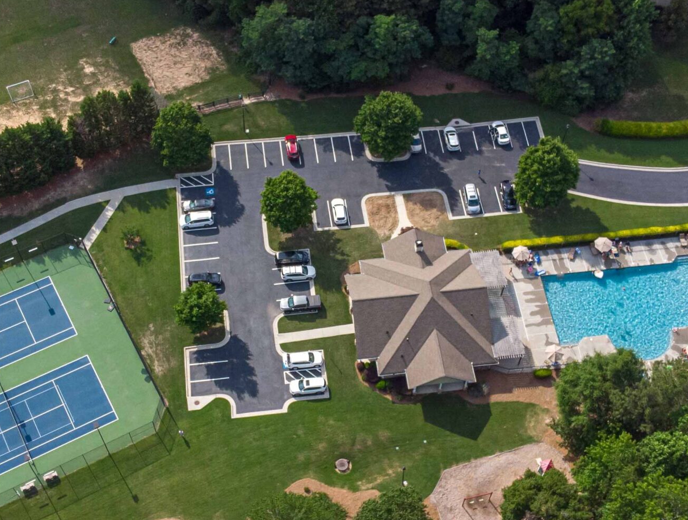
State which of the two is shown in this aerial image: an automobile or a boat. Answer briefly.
automobile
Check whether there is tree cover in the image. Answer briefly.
Yes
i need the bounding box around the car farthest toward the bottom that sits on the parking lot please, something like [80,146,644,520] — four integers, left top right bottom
[291,377,327,395]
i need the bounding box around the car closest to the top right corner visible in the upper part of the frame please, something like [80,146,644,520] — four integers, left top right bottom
[489,122,509,146]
